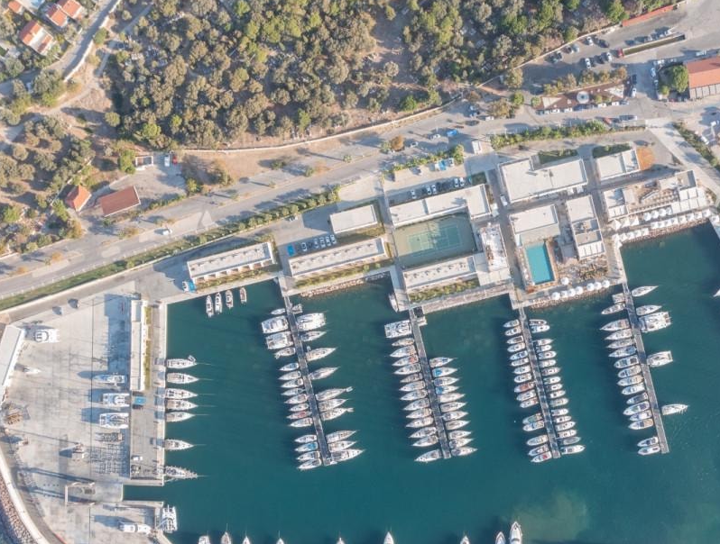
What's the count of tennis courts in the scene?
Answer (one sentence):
The photo contains exactly 1 tennis court.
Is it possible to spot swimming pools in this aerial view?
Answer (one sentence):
Yes, the photo shows a swimming pool.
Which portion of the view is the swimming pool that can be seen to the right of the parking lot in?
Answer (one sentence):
The swimming pool that can be seen to the right of the parking lot is in the right part of the image.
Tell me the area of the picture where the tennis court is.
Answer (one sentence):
The tennis court appears toward the center of the photo.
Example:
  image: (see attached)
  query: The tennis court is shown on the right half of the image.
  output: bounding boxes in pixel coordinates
[392,209,479,269]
